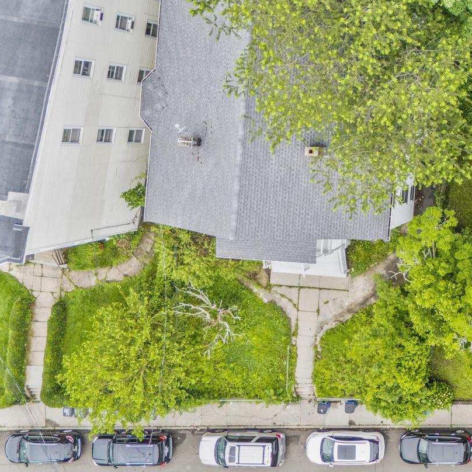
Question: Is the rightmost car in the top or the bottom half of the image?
bottom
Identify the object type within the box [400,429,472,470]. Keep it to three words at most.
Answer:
car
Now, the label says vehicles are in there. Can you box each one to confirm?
[7,429,86,468]
[400,429,472,470]
[306,429,387,471]
[91,430,176,472]
[199,429,289,472]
